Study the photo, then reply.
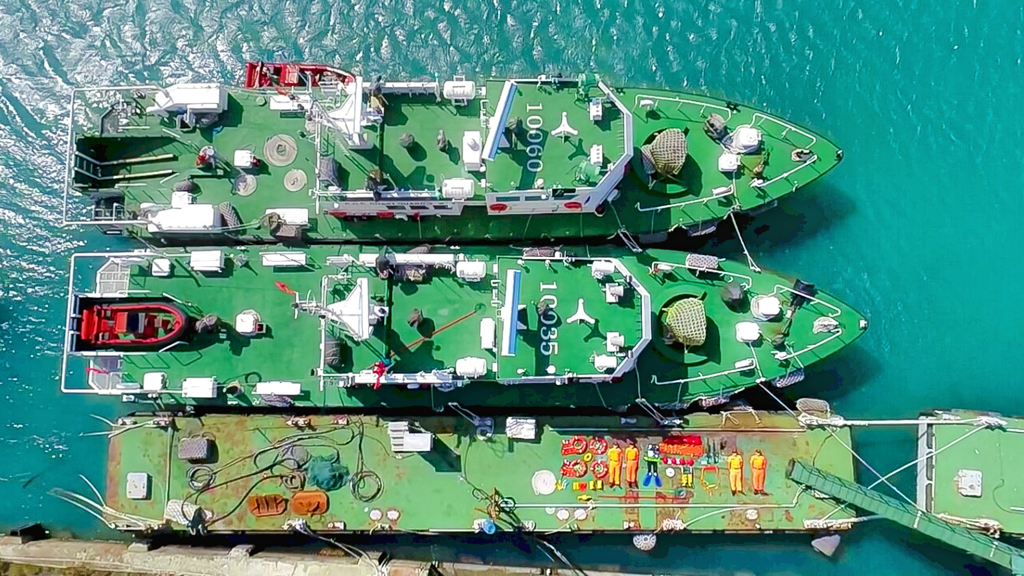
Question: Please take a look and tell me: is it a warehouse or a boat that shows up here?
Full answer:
This aerial view contains a boat.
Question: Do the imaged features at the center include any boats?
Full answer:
Yes, a boat is visible at the center.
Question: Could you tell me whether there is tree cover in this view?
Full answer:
No, tree cover can't be seen anywhere here.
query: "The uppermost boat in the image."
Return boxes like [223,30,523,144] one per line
[238,55,355,88]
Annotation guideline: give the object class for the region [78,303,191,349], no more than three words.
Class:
boat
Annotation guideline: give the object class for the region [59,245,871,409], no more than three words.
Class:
boat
